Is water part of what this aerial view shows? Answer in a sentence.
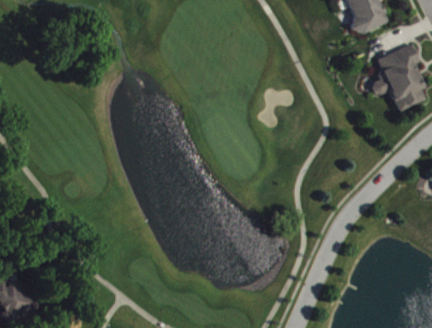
Yes, water can be seen from above here.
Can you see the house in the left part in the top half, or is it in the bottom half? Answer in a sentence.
The house in the left part sits in the bottom half of the picture.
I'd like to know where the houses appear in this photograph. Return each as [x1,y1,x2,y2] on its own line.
[0,282,34,317]
[378,42,431,106]
[352,0,390,32]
